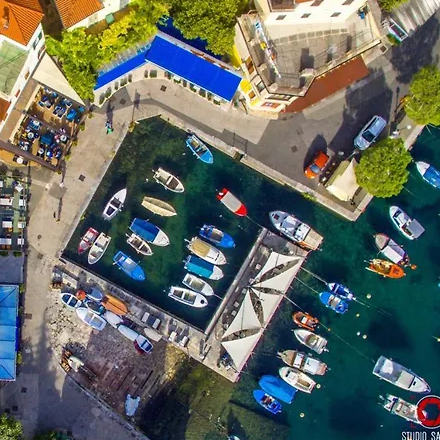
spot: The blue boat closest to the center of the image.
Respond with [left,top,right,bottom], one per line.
[198,223,237,247]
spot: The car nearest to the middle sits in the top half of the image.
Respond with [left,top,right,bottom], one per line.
[302,149,333,180]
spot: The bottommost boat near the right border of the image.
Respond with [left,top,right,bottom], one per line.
[379,390,435,424]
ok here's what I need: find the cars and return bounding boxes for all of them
[350,112,391,154]
[302,149,333,180]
